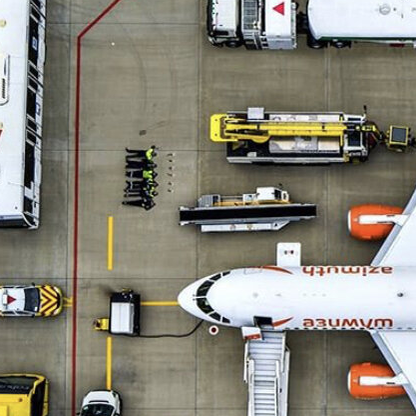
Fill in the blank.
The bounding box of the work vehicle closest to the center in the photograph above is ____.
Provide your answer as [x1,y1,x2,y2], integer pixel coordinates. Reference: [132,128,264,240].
[180,182,318,239]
